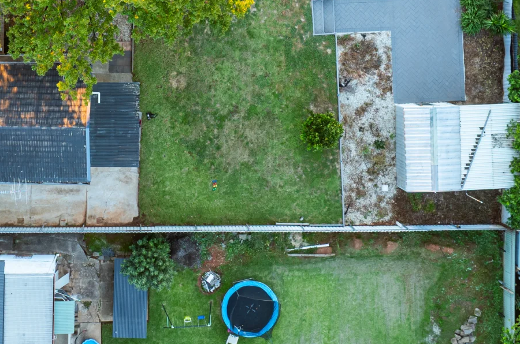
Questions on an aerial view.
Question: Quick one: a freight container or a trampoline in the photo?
trampoline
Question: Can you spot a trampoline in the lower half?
Yes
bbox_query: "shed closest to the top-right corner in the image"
[395,102,519,203]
